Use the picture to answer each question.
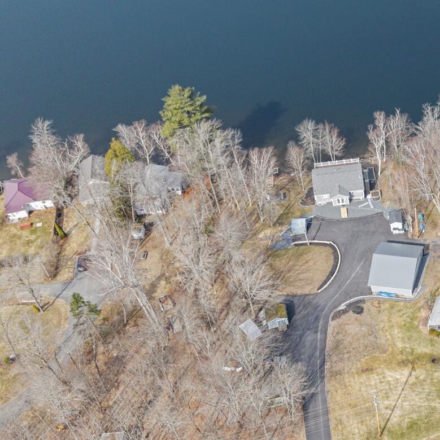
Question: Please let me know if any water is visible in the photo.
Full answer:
Yes, there is water in the image.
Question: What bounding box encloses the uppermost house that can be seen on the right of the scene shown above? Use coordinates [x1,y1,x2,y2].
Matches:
[312,161,376,207]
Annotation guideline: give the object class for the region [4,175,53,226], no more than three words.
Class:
house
